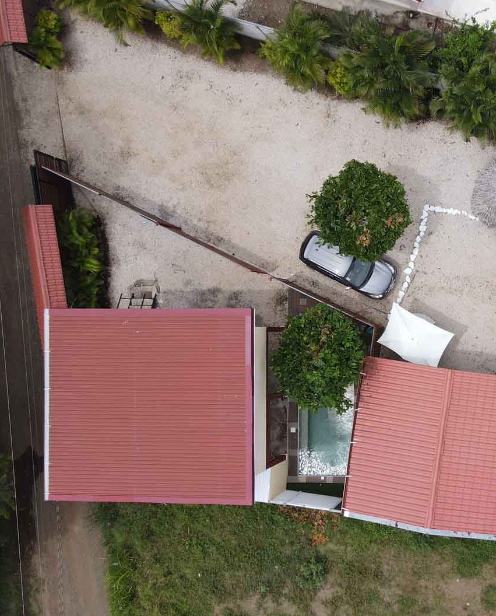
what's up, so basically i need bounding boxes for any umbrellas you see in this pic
[378,302,453,367]
[467,158,496,236]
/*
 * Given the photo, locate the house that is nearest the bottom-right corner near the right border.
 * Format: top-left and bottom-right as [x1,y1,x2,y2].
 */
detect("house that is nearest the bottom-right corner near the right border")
[336,358,496,535]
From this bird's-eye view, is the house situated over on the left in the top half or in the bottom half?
bottom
